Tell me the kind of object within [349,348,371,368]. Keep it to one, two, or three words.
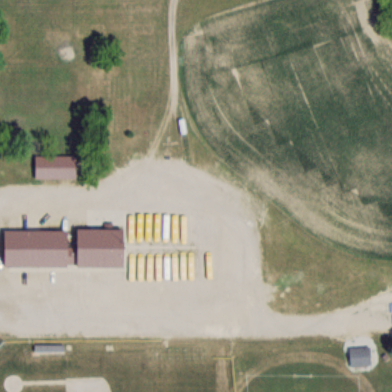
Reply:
building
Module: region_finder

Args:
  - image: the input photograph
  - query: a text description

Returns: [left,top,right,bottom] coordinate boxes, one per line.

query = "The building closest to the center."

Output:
[76,223,123,268]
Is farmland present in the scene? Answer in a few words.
Yes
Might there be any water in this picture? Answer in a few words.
No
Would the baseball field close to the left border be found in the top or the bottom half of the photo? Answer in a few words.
bottom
